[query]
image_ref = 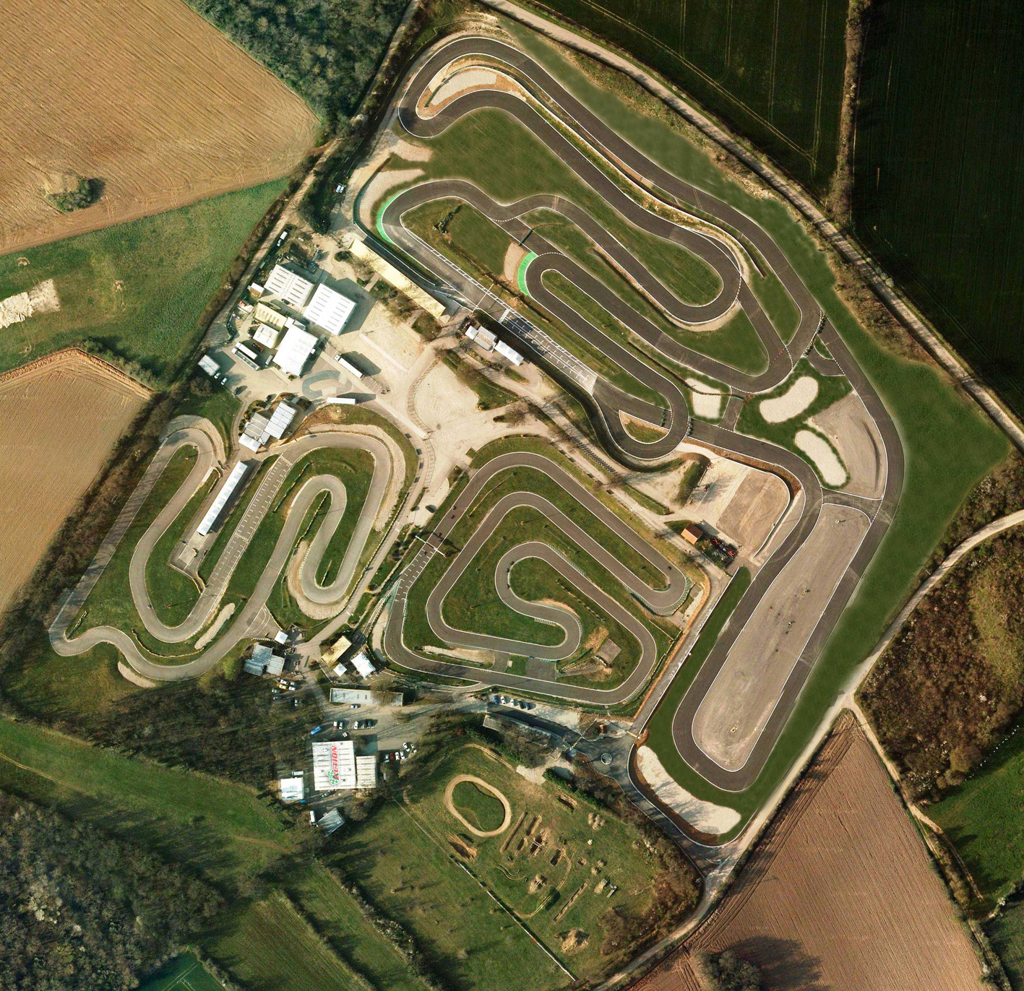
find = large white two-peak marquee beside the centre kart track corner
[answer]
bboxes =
[351,652,375,680]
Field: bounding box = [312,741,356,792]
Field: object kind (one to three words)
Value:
building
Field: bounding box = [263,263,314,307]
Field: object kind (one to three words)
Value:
building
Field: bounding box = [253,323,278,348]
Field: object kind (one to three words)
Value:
house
